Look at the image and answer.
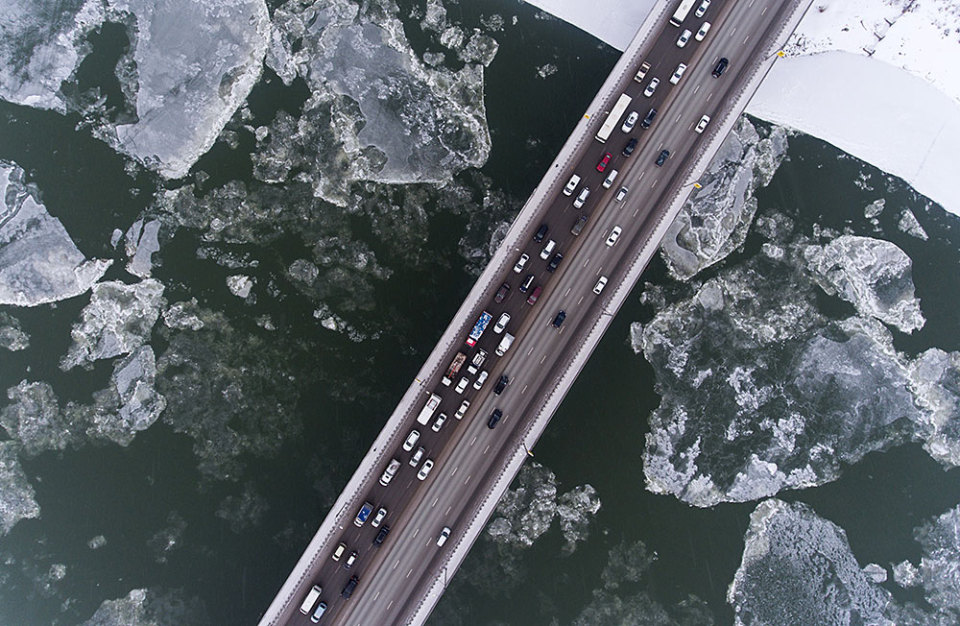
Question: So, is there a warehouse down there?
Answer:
No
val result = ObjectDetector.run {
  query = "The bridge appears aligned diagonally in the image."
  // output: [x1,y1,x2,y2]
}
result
[260,0,814,626]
